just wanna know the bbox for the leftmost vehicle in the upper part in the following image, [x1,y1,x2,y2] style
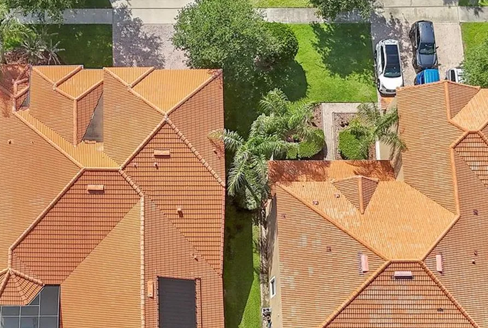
[371,41,406,95]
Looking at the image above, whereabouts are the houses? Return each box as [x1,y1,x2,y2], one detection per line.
[0,64,226,328]
[263,79,488,328]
